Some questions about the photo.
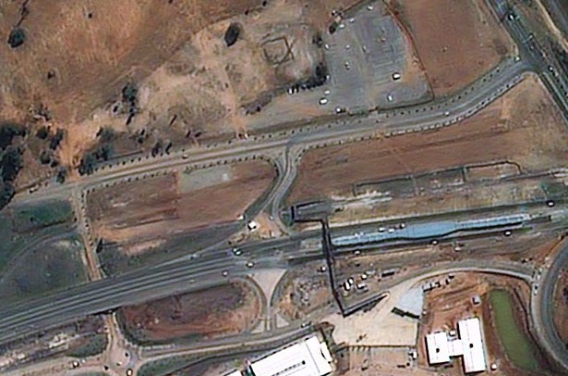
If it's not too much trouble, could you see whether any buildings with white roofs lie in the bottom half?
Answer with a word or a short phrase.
Yes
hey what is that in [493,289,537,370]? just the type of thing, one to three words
pond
